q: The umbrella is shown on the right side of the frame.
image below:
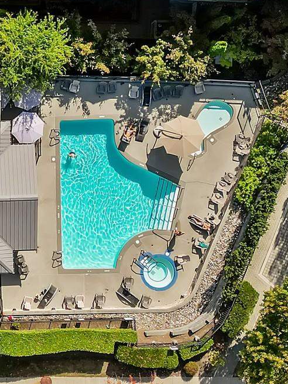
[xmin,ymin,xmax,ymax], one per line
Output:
[153,111,205,160]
